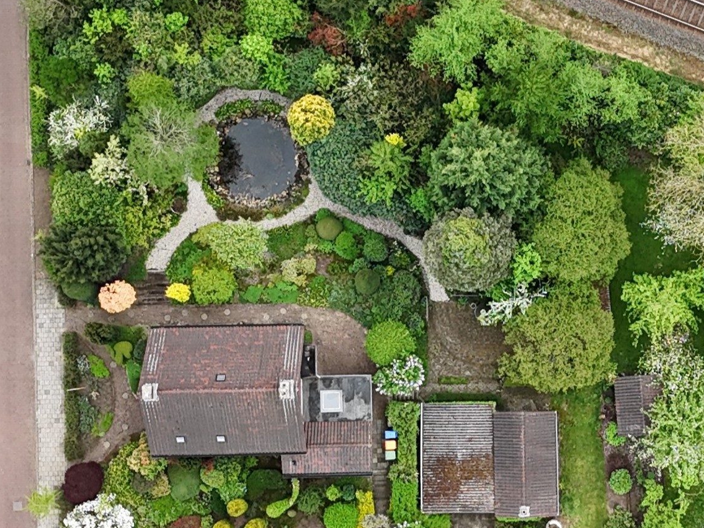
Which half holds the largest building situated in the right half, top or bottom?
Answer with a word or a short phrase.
bottom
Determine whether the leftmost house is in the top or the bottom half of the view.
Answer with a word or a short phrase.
bottom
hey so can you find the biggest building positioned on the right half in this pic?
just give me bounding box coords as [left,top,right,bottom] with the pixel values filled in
[420,403,560,520]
